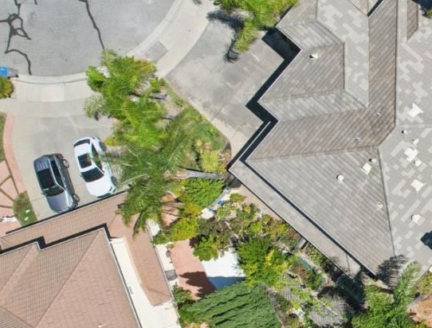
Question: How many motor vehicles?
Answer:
2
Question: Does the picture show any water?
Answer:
No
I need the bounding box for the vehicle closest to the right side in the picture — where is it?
[73,137,115,200]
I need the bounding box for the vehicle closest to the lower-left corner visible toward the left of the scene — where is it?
[31,152,77,215]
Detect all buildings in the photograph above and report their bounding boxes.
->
[0,188,192,328]
[228,0,432,289]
